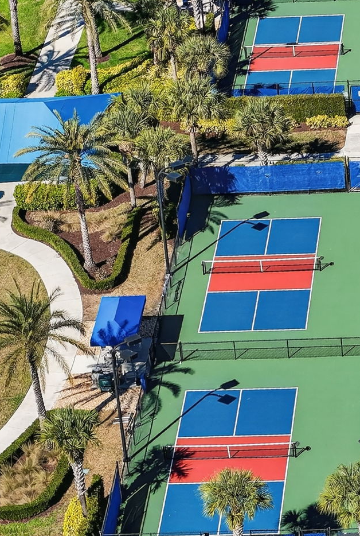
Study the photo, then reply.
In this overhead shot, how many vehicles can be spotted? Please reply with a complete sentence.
I count no vehicles.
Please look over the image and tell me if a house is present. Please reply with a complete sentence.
No, the photo shows no house.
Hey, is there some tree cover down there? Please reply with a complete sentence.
Yes, the picture does contain tree cover.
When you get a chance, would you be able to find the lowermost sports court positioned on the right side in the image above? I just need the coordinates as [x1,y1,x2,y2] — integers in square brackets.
[157,388,298,536]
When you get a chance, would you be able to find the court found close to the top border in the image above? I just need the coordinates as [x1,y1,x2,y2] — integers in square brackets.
[244,15,344,92]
